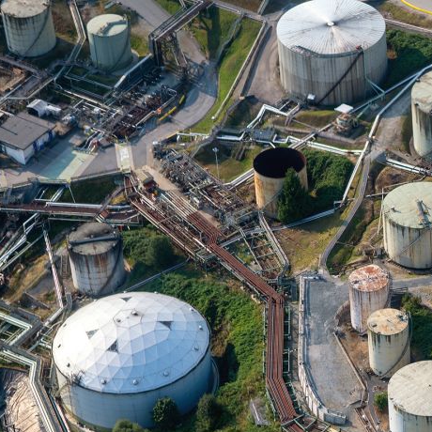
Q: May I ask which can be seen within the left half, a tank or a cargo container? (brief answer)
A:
tank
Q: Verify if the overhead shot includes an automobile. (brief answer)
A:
No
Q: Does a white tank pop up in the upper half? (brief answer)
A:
Yes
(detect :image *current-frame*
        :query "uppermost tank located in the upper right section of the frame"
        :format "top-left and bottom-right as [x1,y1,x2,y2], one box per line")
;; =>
[276,0,389,107]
